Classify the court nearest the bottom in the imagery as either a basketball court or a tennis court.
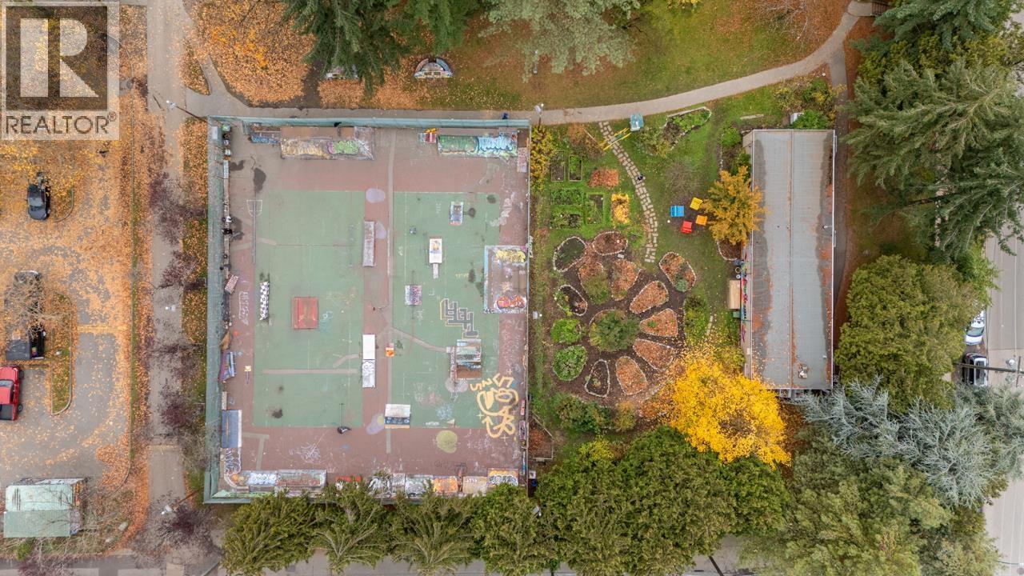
tennis court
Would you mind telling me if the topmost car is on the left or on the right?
left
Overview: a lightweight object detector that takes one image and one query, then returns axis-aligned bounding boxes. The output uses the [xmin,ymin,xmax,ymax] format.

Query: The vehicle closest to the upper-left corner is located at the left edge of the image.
[21,173,49,220]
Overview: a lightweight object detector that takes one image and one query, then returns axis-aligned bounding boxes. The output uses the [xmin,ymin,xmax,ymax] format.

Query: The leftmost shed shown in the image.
[2,481,85,538]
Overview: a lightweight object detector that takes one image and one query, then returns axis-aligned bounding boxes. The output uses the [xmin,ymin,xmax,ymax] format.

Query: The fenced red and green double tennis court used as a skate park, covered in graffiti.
[222,127,528,490]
